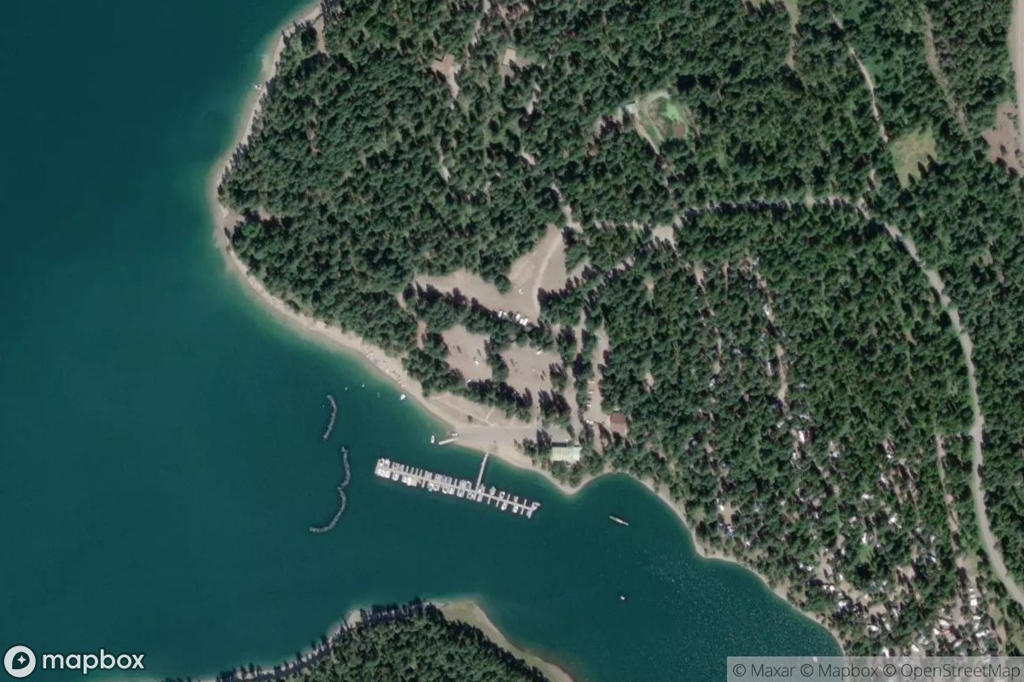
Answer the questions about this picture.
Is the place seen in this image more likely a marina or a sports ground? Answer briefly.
marina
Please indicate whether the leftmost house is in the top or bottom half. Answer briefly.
top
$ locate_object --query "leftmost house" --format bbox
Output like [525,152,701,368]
[433,54,457,74]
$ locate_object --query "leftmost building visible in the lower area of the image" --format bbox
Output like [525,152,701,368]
[552,447,581,463]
